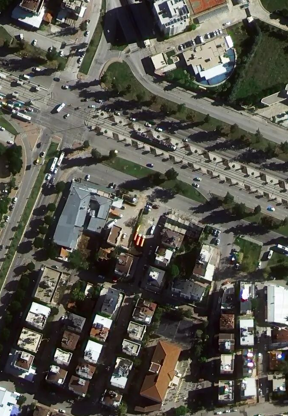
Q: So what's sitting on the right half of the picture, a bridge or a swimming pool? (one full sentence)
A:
What appears on the right half of the picture is a swimming pool.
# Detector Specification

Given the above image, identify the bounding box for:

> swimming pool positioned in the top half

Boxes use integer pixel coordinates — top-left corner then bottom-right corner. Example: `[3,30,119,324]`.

[197,47,237,83]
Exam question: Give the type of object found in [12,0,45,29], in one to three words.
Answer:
house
